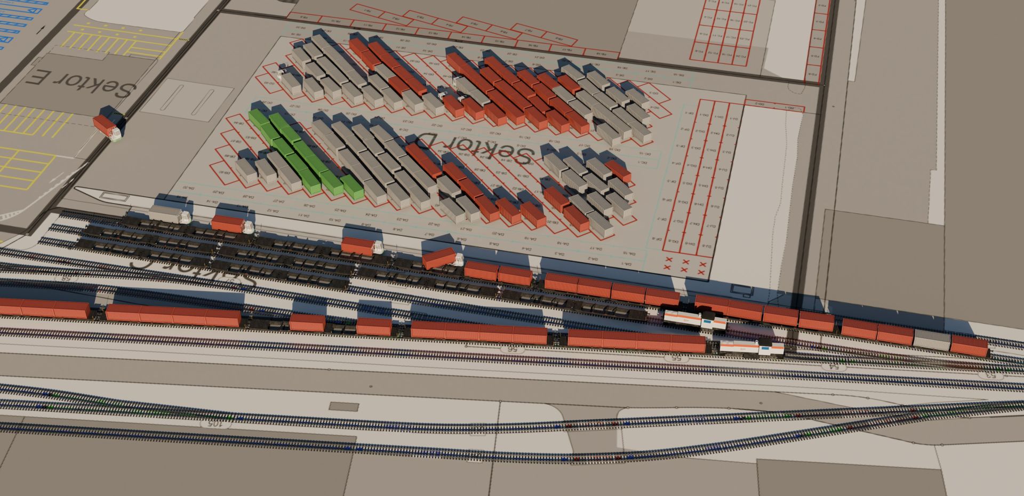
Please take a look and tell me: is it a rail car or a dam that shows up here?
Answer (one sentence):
I can see a rail car in this picture.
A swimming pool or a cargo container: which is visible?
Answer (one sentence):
I can see a cargo container in this picture.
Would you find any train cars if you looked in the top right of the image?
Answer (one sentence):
No, in the top right of the image there is no train car.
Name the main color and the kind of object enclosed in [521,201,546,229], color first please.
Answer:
red shipping container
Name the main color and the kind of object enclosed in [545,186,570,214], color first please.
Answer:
red shipping container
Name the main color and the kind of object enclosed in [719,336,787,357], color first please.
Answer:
white rail car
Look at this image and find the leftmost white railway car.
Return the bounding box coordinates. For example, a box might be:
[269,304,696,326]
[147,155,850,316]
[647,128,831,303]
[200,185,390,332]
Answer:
[662,308,729,331]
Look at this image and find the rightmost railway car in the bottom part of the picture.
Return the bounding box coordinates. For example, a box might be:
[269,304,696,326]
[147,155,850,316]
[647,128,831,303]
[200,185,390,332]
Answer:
[836,324,995,358]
